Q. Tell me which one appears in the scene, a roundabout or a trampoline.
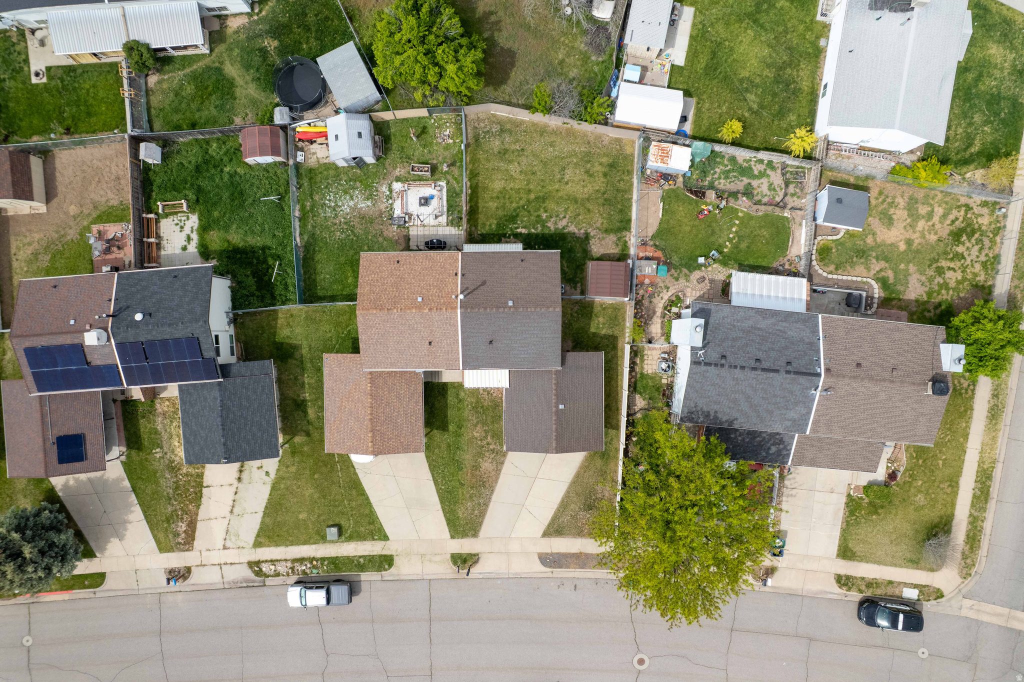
trampoline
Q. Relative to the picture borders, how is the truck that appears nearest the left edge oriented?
horizontally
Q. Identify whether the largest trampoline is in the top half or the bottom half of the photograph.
top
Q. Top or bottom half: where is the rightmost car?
bottom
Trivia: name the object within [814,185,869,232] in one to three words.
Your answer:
shed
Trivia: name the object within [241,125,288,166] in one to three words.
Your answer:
shed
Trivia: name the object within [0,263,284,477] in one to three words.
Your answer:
house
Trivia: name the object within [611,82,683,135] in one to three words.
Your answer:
building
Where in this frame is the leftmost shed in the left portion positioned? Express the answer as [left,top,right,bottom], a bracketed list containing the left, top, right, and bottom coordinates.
[0,149,51,214]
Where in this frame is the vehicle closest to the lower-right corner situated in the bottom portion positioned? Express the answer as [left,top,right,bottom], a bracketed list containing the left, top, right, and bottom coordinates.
[859,599,926,635]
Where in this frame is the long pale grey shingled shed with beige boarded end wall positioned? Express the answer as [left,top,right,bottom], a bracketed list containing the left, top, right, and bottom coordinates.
[621,0,673,60]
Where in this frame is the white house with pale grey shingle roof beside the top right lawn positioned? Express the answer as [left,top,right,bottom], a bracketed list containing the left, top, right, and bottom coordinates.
[814,0,972,153]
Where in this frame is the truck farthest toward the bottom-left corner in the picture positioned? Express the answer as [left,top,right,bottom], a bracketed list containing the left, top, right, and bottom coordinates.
[285,584,353,617]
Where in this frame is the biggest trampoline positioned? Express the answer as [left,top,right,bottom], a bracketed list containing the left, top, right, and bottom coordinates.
[269,52,329,116]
